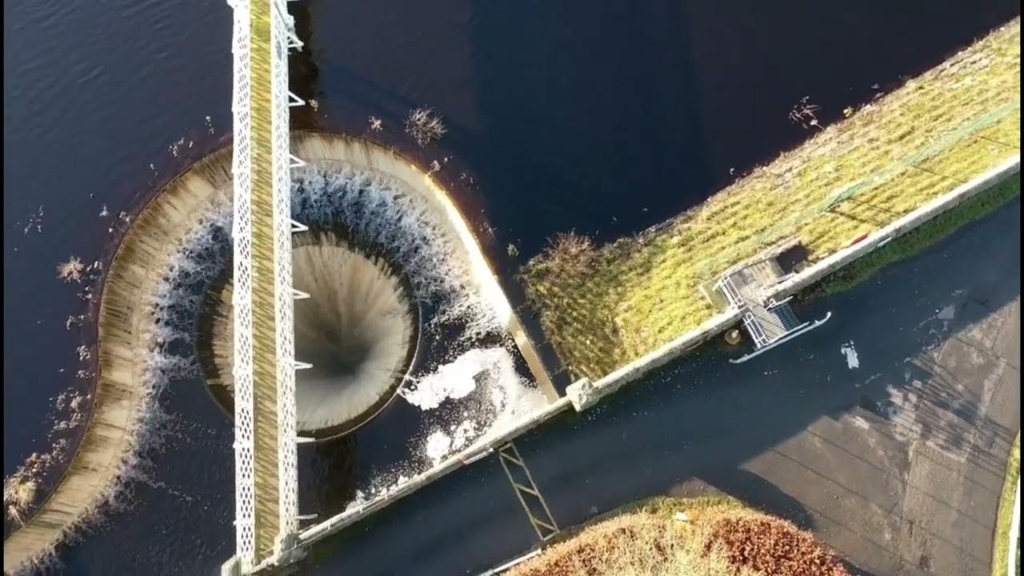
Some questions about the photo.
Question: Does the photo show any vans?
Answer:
No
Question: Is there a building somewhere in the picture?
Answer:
No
